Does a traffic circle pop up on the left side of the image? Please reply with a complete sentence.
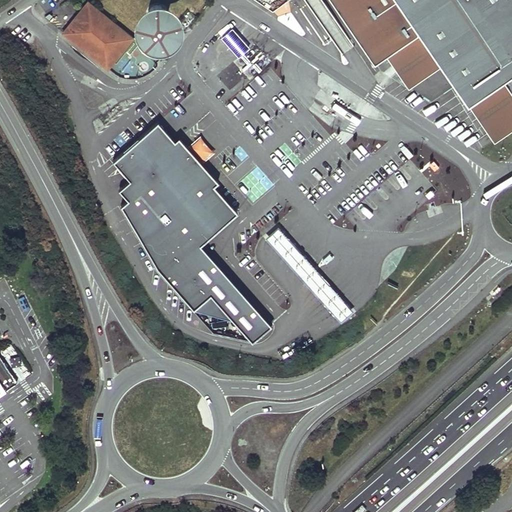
Yes, you'll find a traffic circle on the left side of the image.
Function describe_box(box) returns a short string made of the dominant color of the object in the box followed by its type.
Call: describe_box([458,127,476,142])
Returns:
white vehicle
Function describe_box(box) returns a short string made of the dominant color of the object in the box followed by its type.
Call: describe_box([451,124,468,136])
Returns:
white vehicle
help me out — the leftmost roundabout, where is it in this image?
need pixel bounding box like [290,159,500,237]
[93,358,233,498]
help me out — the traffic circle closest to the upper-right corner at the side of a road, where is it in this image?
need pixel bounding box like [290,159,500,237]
[470,164,512,264]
